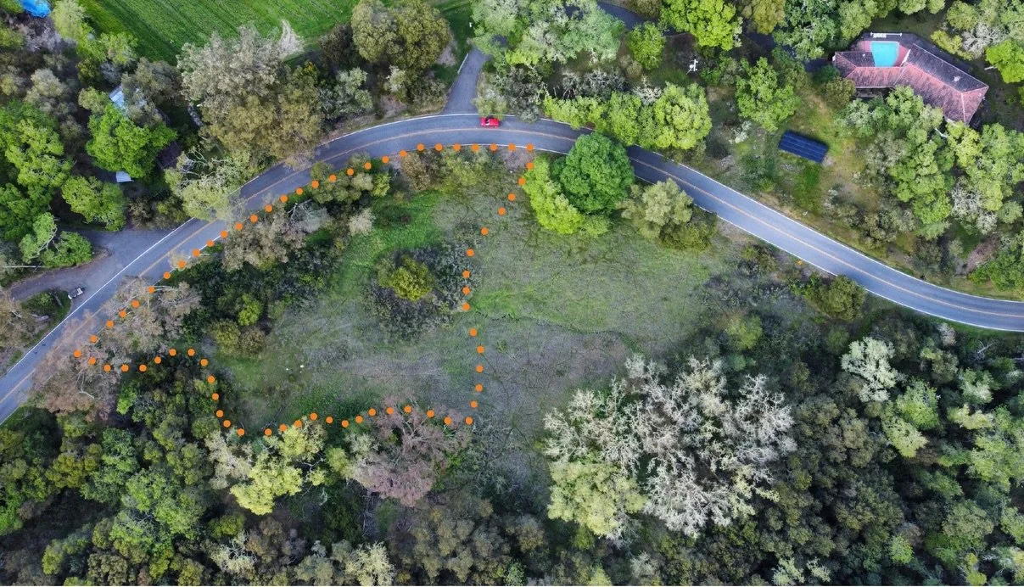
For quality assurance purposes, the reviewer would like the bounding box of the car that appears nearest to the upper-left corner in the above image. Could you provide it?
[64,286,84,300]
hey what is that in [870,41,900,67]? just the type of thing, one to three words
swimming pool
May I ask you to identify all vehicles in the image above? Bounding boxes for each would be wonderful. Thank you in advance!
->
[480,118,499,127]
[64,286,84,300]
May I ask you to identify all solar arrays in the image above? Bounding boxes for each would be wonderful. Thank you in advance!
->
[779,131,828,162]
